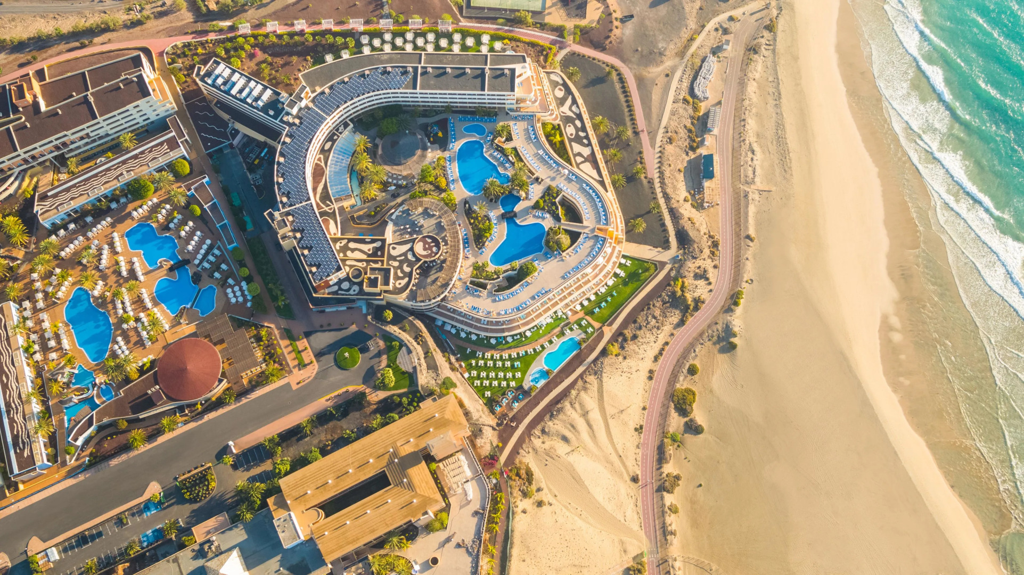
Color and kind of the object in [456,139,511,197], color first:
blue swimming pool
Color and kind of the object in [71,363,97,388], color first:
blue swimming pool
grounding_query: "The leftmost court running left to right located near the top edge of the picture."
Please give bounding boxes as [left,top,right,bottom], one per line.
[463,0,546,21]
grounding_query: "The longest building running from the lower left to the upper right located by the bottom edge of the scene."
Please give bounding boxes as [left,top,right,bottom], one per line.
[267,392,469,563]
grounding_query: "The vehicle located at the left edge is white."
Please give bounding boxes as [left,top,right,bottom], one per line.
[46,548,59,561]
